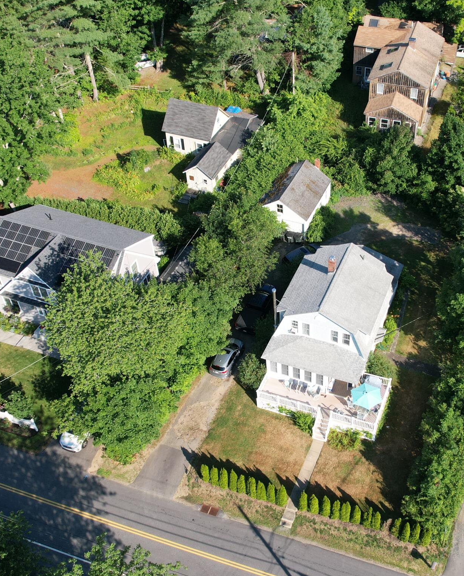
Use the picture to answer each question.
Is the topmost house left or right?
right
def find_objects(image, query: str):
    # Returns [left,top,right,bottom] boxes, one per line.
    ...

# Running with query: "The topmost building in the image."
[353,19,461,136]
